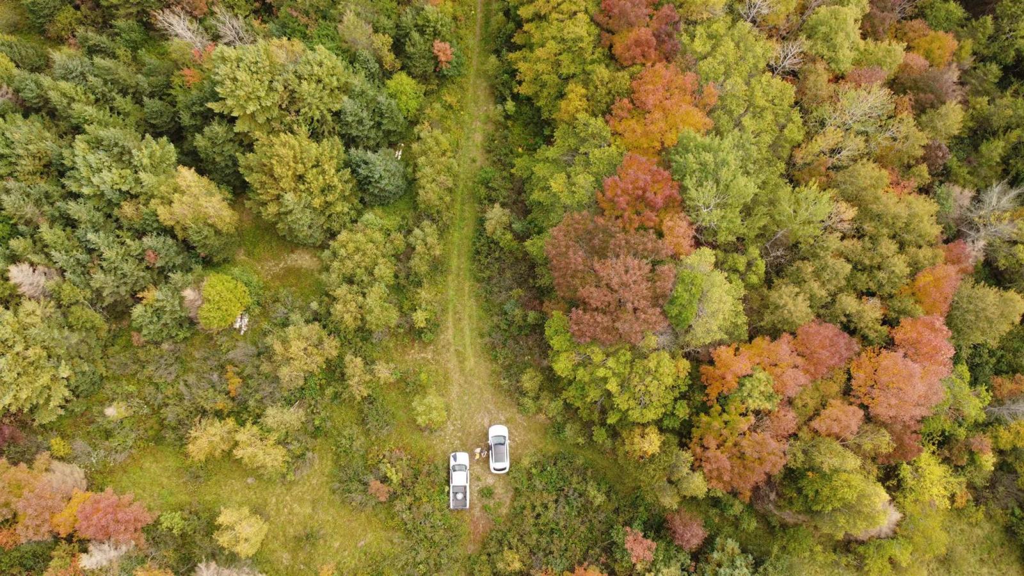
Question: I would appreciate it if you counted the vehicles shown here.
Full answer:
Altogether the scene contains 2 vehicles.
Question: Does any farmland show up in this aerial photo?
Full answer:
No, no farmland is visible.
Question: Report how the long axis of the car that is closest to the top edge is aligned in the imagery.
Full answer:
The car that is closest to the top edge has been laid out up and down relative to the frame.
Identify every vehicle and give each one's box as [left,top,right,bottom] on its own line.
[487,424,510,474]
[447,451,471,511]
